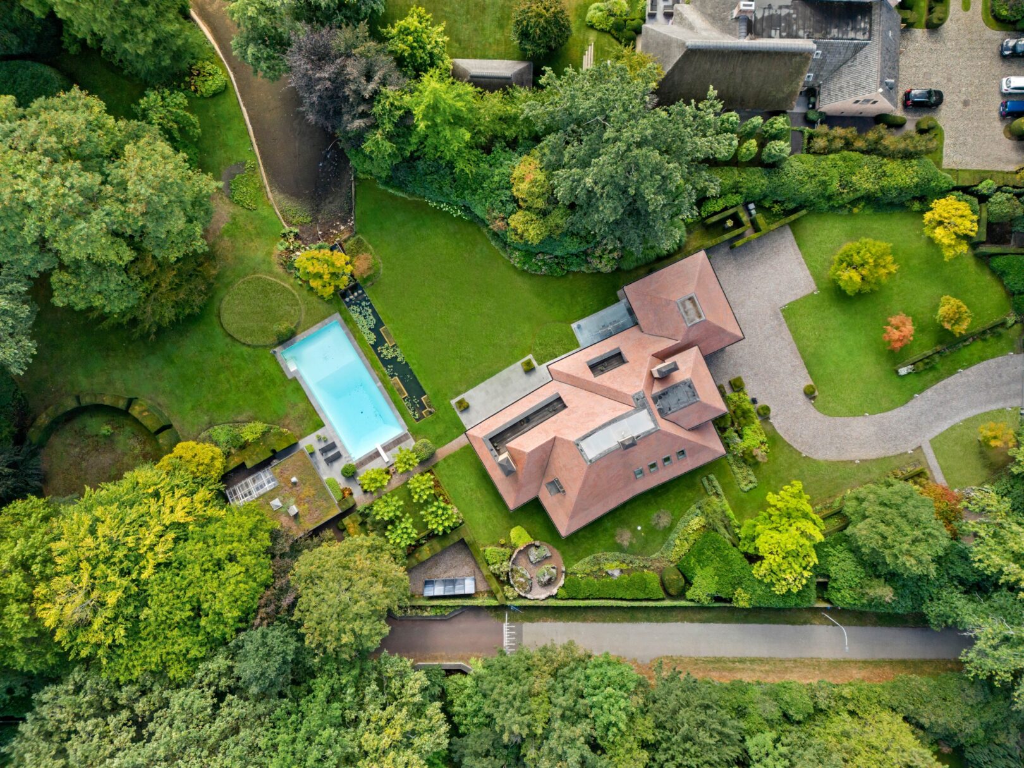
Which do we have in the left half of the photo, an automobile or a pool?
pool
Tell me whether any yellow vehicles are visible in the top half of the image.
No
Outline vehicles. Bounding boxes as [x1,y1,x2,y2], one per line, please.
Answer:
[901,86,944,109]
[997,37,1024,60]
[997,76,1024,96]
[997,101,1024,120]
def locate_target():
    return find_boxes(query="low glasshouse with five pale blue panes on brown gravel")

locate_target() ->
[423,574,475,596]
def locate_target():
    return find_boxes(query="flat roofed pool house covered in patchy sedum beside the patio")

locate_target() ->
[226,447,344,543]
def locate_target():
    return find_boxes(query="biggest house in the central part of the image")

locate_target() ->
[464,249,746,539]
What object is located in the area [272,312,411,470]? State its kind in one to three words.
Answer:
swimming pool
